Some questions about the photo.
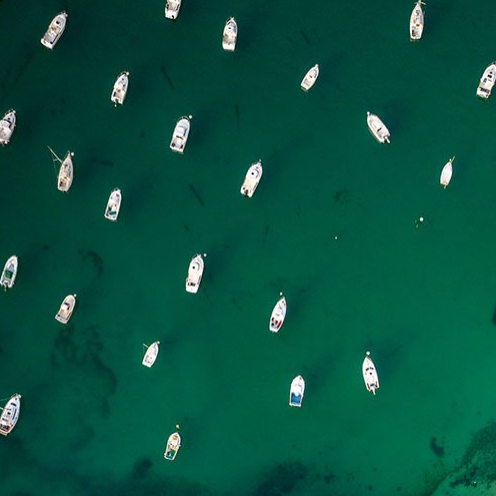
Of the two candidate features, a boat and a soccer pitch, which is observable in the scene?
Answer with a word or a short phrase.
boat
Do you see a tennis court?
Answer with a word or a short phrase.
No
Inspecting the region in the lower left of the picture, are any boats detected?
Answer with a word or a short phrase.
Yes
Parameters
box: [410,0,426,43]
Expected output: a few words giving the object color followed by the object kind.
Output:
white boat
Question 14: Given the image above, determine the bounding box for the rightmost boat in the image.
[476,62,496,102]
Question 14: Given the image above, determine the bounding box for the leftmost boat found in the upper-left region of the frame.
[0,109,17,145]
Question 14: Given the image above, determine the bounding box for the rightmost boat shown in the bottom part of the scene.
[362,357,380,394]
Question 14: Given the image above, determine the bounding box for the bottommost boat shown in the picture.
[164,430,182,461]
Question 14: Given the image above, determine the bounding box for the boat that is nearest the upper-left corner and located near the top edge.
[42,12,68,51]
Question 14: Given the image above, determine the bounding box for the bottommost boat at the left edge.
[0,394,22,436]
